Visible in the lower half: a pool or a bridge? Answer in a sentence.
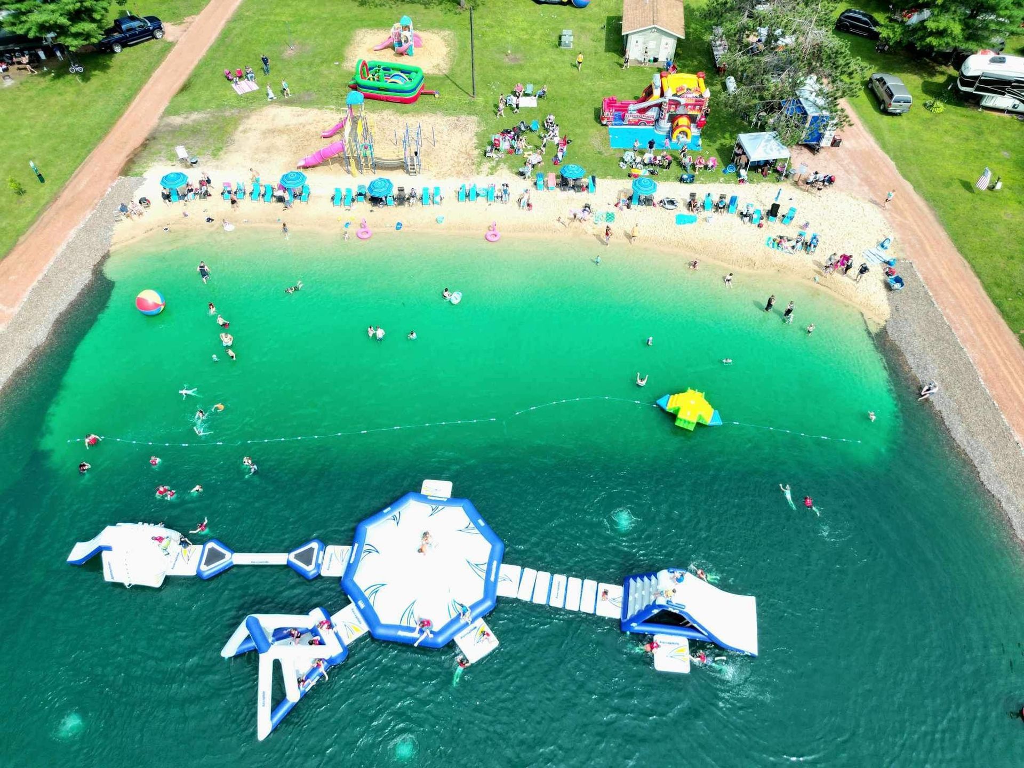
It is a bridge that can be seen in the lower half.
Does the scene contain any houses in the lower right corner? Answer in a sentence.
No, in the lower right corner there is no house.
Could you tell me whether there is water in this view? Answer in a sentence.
Yes, water shows up in the scene.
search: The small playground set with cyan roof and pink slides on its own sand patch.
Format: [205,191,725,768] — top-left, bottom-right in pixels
[374,12,425,57]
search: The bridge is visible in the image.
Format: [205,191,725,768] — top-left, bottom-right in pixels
[517,568,598,614]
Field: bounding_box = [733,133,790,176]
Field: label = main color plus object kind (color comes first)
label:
white tent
